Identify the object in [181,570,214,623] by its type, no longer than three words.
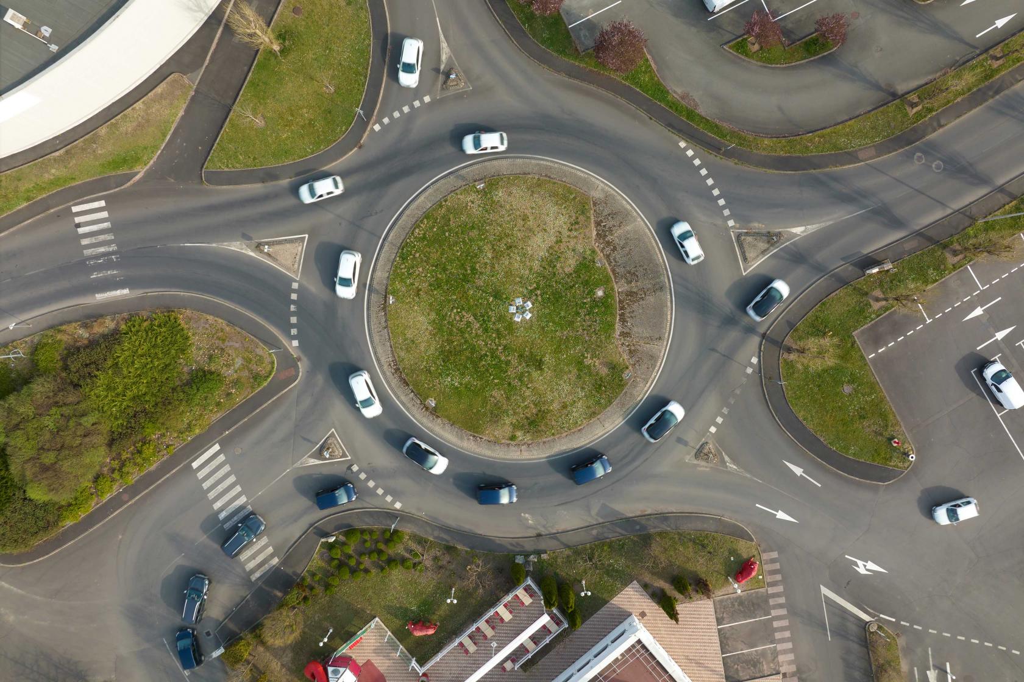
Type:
car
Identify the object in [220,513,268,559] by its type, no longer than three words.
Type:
car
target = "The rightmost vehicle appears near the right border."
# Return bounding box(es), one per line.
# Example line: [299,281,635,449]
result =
[980,364,1024,413]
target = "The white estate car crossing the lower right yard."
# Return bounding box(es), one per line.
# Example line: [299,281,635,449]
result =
[927,495,981,526]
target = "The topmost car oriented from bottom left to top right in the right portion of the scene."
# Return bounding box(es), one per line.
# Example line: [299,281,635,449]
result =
[744,280,788,322]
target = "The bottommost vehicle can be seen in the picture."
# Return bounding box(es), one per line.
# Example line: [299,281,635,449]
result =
[174,626,207,673]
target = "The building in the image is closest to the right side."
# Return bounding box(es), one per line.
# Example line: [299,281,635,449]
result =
[554,616,689,682]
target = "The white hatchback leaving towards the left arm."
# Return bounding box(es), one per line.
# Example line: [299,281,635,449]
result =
[298,174,347,205]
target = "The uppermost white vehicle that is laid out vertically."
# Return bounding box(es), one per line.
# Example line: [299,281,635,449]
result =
[396,38,424,87]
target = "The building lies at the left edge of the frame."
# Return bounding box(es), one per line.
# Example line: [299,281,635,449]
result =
[0,0,219,157]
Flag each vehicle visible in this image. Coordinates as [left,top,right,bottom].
[475,482,518,506]
[349,370,383,418]
[334,250,363,298]
[569,454,612,486]
[403,435,448,474]
[668,221,708,266]
[396,38,424,87]
[298,174,347,205]
[980,364,1024,413]
[927,495,981,526]
[639,402,684,442]
[744,280,788,322]
[461,130,509,156]
[181,570,214,623]
[174,626,207,673]
[220,513,268,559]
[314,480,358,513]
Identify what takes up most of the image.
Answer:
paved ground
